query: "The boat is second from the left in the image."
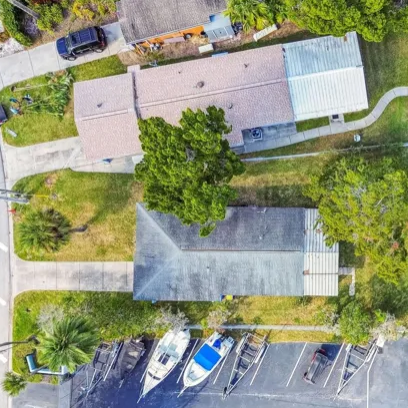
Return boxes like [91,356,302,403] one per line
[139,326,194,404]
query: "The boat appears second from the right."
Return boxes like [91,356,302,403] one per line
[182,330,236,390]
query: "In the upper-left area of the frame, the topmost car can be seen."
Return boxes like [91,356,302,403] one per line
[57,24,110,59]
